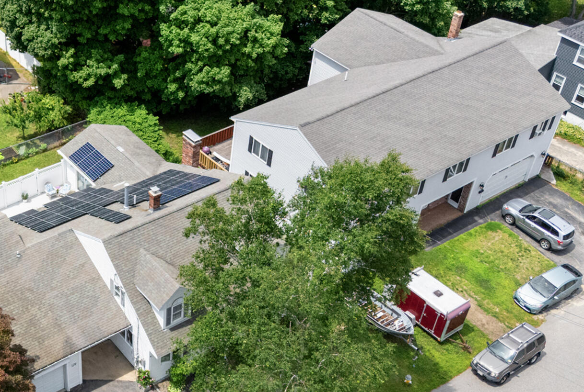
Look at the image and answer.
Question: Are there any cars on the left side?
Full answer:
No, I can find no car on the left side.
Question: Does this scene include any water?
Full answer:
No, there's no water in this view.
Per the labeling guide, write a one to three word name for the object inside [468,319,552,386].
car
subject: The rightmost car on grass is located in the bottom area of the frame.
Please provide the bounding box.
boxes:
[513,263,584,312]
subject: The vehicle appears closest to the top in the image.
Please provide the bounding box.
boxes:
[504,204,583,254]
